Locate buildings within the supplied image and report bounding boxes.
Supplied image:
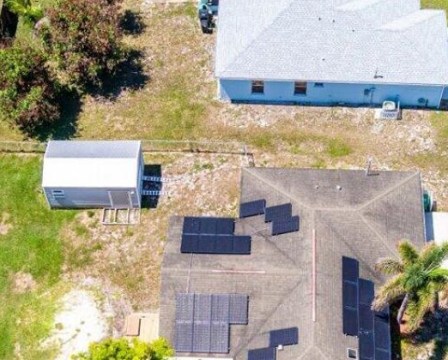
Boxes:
[203,0,448,108]
[41,139,146,210]
[158,161,437,360]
